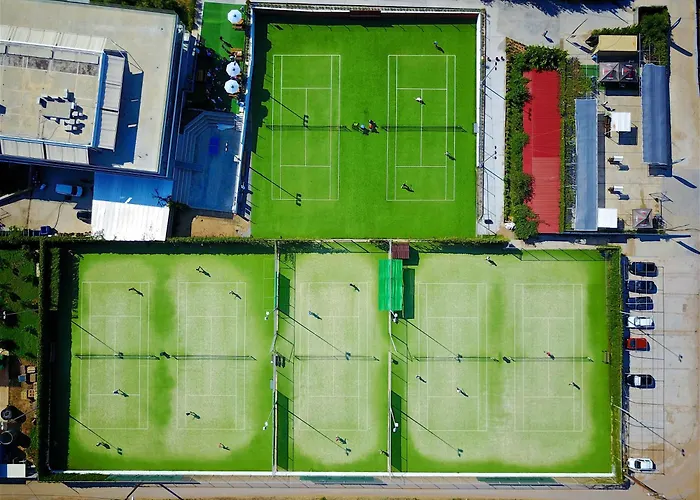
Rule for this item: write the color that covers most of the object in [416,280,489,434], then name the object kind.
green tennis court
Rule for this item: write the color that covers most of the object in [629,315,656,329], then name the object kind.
white vehicle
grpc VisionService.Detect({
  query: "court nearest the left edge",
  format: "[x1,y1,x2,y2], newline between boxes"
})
[79,280,152,432]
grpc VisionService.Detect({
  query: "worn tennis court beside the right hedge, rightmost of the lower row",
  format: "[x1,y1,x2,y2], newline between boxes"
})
[511,281,585,434]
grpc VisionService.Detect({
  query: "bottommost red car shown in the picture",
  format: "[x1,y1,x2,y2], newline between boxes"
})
[627,338,651,351]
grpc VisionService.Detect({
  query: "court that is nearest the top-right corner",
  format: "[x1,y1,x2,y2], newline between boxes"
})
[386,52,458,203]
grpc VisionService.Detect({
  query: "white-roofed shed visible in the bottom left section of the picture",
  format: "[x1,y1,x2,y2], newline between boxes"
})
[8,460,31,477]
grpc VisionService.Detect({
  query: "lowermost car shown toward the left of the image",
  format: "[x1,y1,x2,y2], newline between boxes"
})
[72,210,95,224]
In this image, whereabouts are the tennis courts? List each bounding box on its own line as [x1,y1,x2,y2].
[270,52,343,202]
[174,280,248,432]
[297,280,371,433]
[79,280,152,432]
[386,52,458,203]
[416,280,489,434]
[511,281,585,434]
